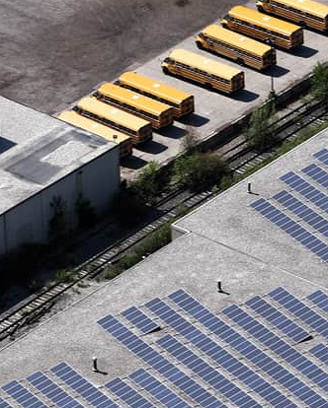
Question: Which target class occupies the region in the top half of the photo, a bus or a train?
bus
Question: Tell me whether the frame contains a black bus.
No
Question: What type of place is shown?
industrial area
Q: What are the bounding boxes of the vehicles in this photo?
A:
[161,49,245,98]
[87,86,170,135]
[217,8,303,54]
[252,0,328,37]
[112,73,195,122]
[194,25,277,74]
[69,99,150,150]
